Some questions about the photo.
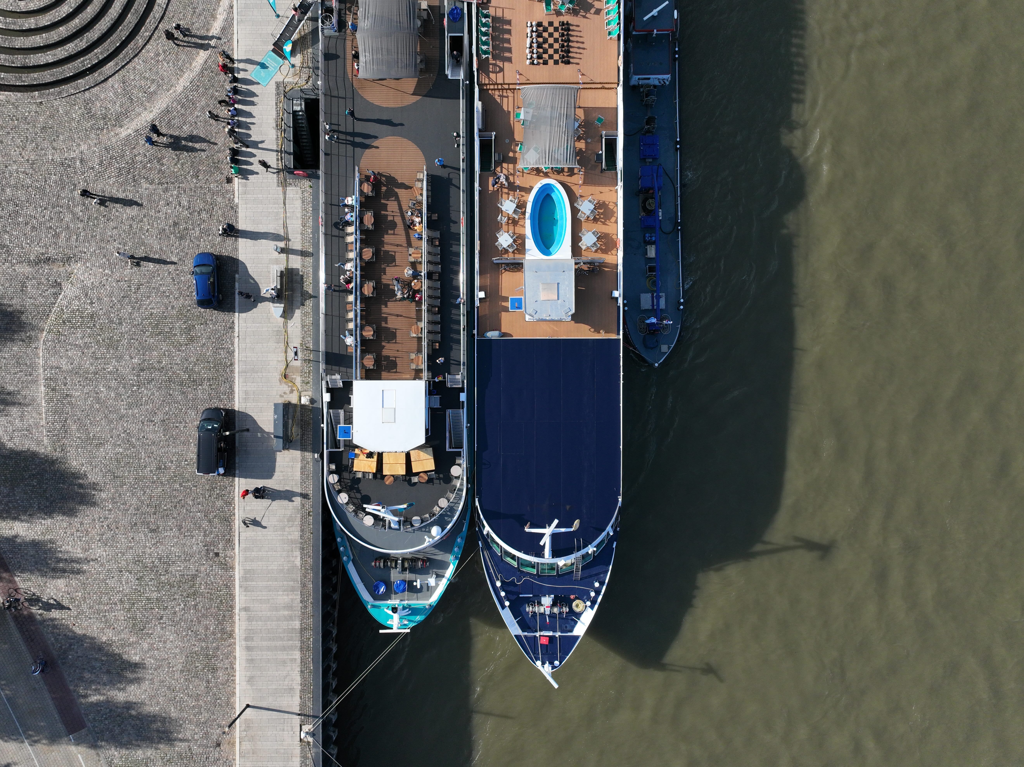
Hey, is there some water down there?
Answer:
Yes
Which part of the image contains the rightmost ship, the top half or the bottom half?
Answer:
top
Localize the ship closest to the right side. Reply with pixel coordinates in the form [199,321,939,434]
[623,0,685,367]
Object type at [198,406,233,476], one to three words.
van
